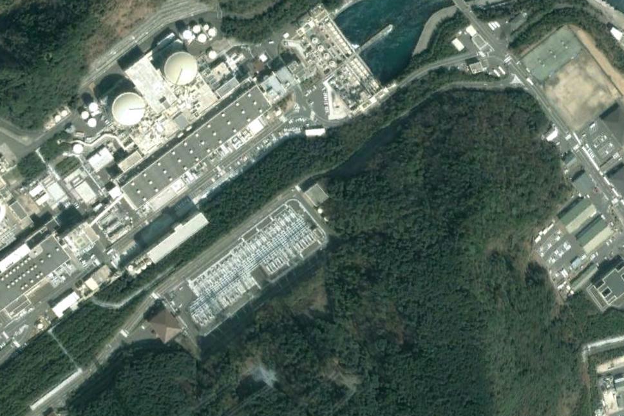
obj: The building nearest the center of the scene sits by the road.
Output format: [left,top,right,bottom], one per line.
[302,181,330,206]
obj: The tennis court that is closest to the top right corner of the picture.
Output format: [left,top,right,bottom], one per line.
[552,25,583,58]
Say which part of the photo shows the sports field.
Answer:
top right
